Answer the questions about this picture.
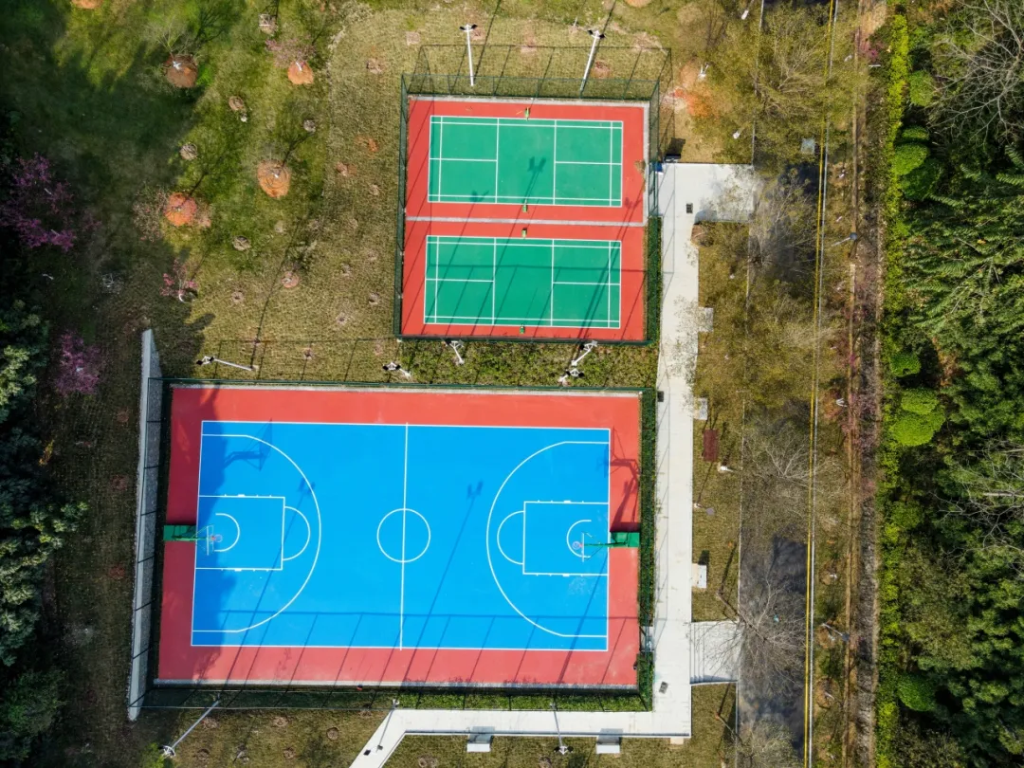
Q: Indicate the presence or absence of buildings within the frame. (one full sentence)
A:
No, the picture doesn't show any building.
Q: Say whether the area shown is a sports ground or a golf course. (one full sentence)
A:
The picture captures a sports ground.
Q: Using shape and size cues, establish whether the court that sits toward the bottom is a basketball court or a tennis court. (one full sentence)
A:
Looking closely, the court that sits toward the bottom is a basketball court.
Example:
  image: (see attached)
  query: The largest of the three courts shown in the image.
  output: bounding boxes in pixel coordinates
[155,383,641,692]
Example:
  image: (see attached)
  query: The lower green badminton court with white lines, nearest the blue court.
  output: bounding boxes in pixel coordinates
[402,224,649,346]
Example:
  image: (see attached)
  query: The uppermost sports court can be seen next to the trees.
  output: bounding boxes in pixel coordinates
[403,93,652,230]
